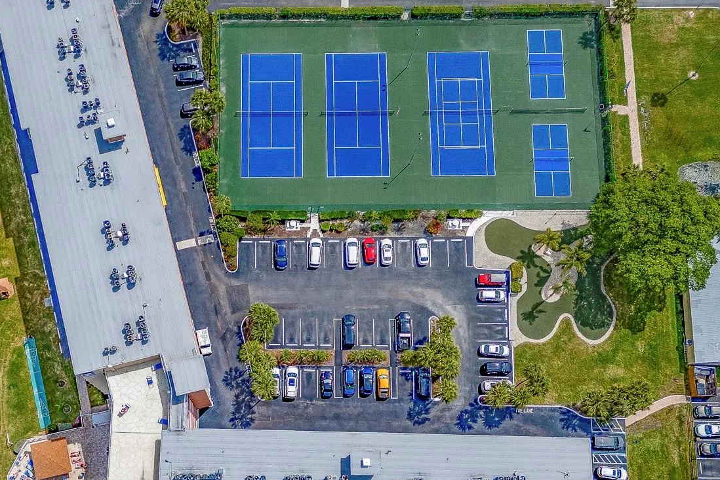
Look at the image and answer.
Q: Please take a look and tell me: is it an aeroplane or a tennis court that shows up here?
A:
tennis court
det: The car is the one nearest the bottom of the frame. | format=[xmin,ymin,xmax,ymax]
[595,466,625,480]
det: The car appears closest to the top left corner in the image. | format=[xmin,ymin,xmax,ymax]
[151,0,164,18]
